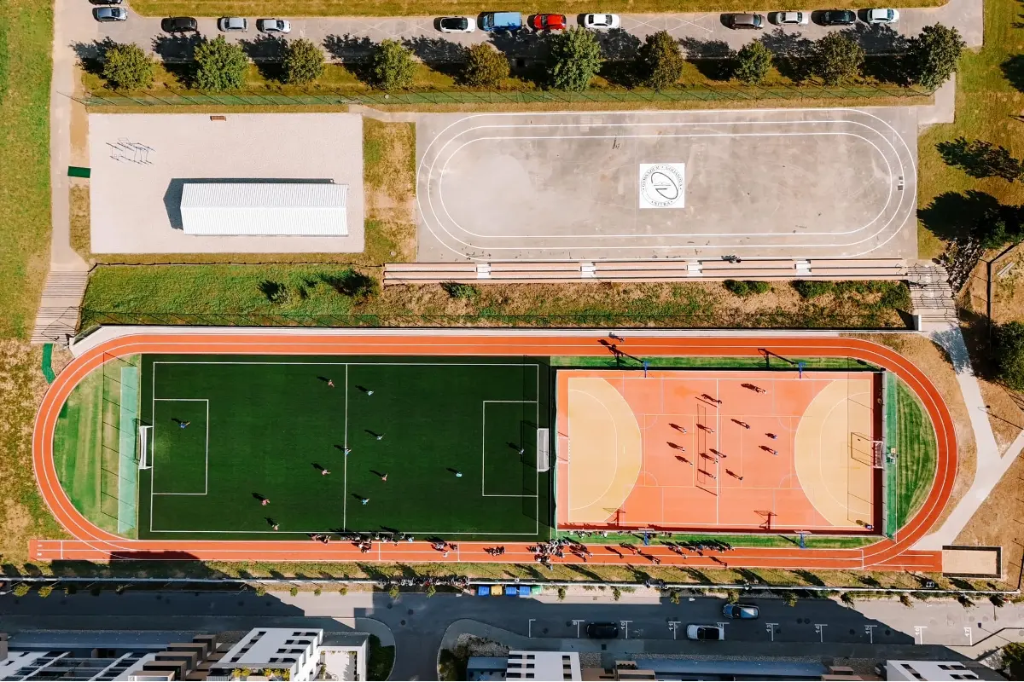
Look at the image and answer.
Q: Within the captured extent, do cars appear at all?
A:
Yes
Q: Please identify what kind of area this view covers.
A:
sports ground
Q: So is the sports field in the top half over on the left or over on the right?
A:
right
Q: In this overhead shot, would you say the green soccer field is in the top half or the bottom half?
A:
bottom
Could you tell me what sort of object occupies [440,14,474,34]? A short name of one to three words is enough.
car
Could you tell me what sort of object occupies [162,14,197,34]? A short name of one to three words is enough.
car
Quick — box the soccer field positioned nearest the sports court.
[138,354,551,542]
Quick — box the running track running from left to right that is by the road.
[29,333,958,572]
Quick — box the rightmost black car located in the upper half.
[821,7,857,27]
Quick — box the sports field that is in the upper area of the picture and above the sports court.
[416,106,918,262]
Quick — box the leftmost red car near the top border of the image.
[533,11,565,31]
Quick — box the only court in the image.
[557,370,882,534]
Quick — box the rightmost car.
[864,5,898,25]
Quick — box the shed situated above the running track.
[180,182,354,239]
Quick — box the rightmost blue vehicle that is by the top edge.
[483,9,521,32]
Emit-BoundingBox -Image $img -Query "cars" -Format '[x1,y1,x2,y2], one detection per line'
[586,620,618,641]
[533,11,565,31]
[218,14,249,32]
[584,10,619,30]
[440,14,474,34]
[774,7,807,27]
[162,14,197,34]
[686,622,724,643]
[722,602,759,622]
[864,5,898,25]
[259,16,291,34]
[821,7,857,27]
[91,0,126,10]
[96,4,130,23]
[730,10,763,30]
